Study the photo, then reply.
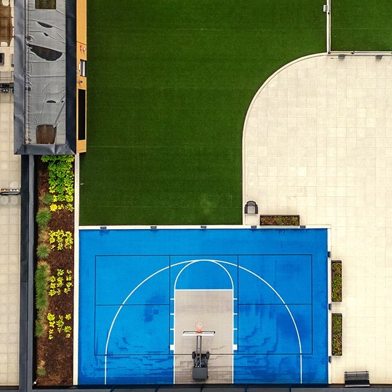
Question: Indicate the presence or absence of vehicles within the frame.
No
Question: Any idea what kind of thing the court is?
basketball court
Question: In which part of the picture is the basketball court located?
bottom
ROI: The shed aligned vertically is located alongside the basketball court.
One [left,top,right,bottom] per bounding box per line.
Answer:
[14,0,87,155]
